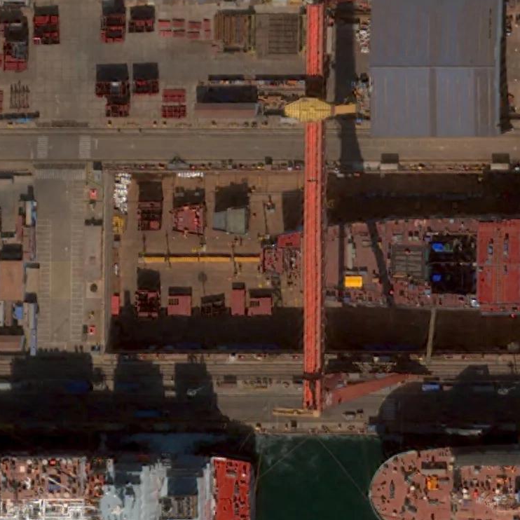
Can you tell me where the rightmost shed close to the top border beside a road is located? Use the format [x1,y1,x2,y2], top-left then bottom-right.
[368,0,511,137]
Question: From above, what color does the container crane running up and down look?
red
